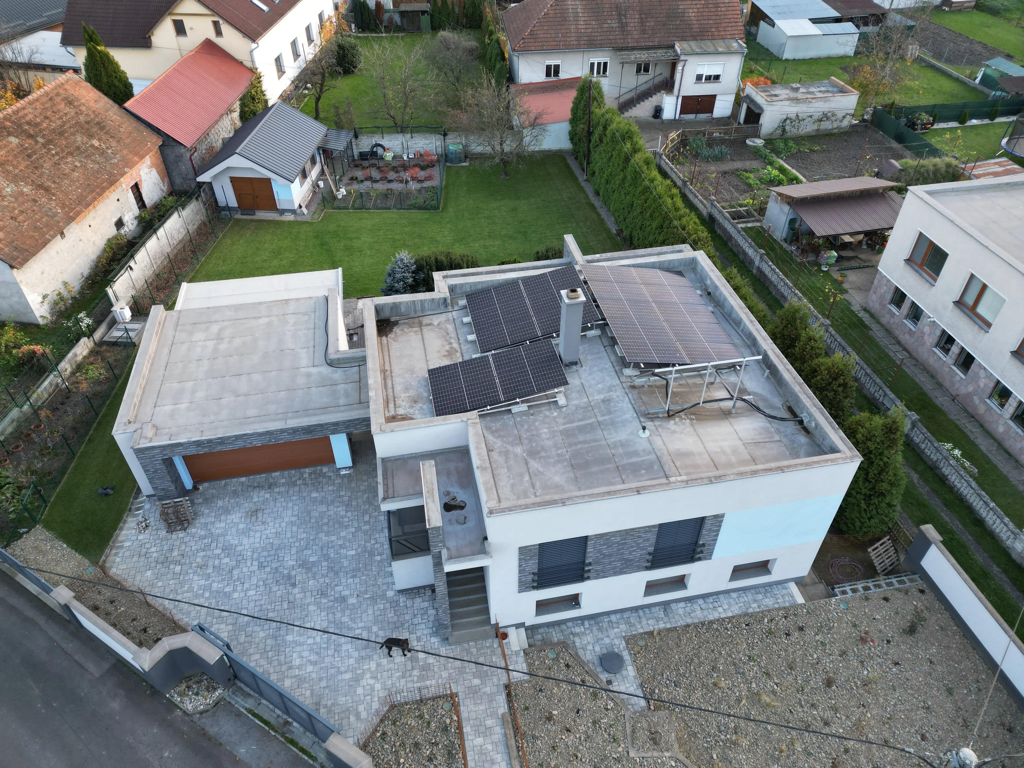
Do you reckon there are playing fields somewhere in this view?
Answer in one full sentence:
No, no playing field is visible in the scene.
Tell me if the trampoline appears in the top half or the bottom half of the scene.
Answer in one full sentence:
The trampoline sits in the top half of the picture.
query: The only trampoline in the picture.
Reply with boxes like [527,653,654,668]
[994,103,1024,160]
